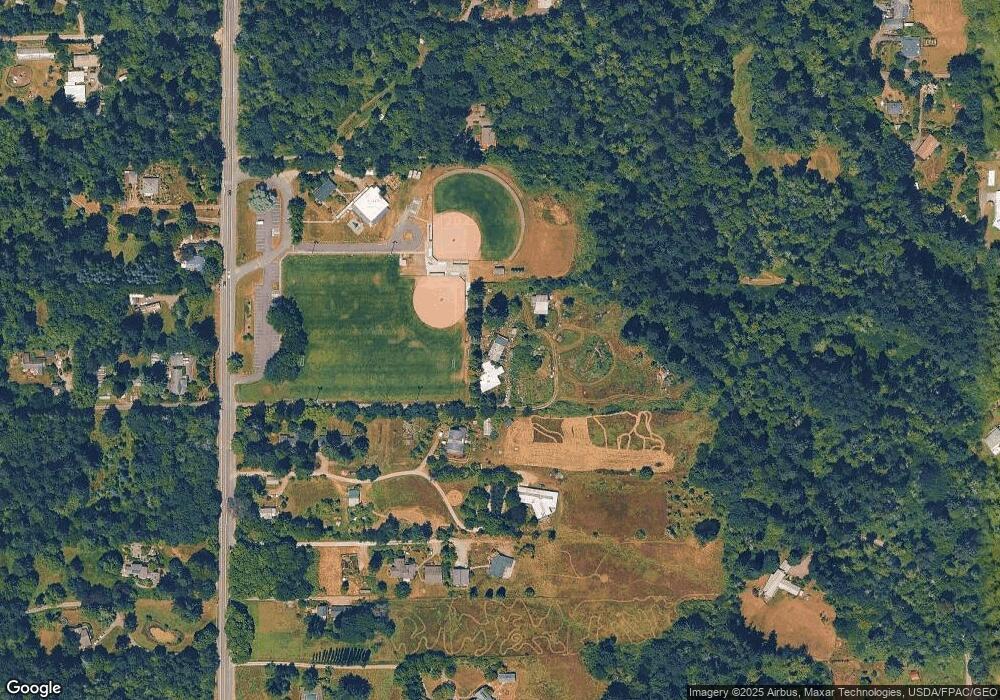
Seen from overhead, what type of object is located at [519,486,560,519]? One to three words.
building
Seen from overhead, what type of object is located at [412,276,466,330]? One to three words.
baseball field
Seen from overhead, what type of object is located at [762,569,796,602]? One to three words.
house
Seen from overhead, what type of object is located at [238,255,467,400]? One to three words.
sports field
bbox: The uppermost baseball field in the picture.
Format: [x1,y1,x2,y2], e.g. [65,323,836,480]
[432,169,526,262]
